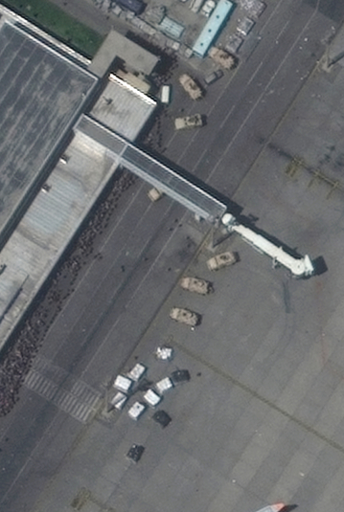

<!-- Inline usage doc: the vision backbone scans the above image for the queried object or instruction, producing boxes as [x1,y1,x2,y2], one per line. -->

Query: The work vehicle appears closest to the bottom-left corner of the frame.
[126,445,144,464]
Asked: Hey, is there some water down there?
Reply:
No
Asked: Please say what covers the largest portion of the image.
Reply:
paved ground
